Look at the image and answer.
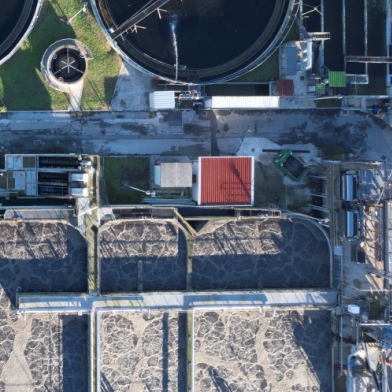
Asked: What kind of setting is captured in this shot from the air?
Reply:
industrial area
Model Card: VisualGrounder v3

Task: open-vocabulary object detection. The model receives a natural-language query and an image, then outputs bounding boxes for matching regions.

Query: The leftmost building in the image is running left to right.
[0,155,91,198]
